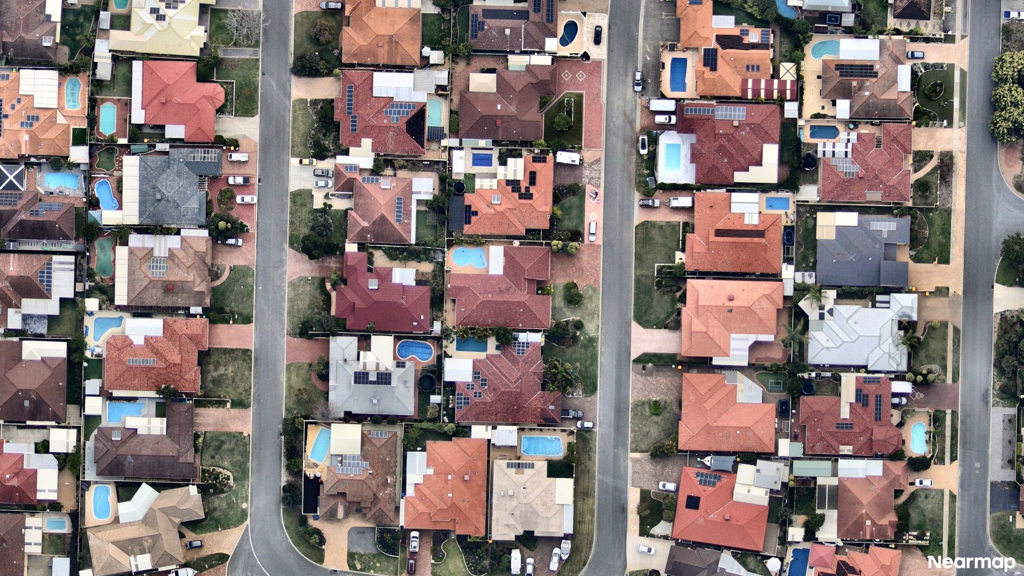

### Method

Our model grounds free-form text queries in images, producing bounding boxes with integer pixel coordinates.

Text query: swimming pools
[93,178,120,211]
[396,339,435,363]
[91,314,125,343]
[910,422,928,455]
[308,426,331,464]
[520,434,564,457]
[427,97,444,130]
[559,19,579,48]
[107,402,147,424]
[806,124,840,140]
[663,140,684,172]
[786,547,810,576]
[809,37,840,60]
[98,101,118,136]
[94,236,115,279]
[452,247,487,269]
[63,76,82,111]
[471,152,494,168]
[43,172,80,189]
[455,336,489,353]
[773,0,799,20]
[112,0,129,11]
[92,483,112,521]
[670,57,688,92]
[44,516,68,531]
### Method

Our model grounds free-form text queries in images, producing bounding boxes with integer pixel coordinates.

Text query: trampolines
[784,230,794,245]
[802,380,815,393]
[827,14,840,24]
[779,399,790,416]
[803,152,818,169]
[419,373,436,391]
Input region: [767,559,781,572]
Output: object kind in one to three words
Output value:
umbrella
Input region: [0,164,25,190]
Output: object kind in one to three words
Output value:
gazebo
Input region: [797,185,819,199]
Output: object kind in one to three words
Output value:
shed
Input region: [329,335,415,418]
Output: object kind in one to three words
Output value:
house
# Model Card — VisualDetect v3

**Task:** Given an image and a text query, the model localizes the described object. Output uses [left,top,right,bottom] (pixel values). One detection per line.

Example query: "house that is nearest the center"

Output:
[449,245,551,329]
